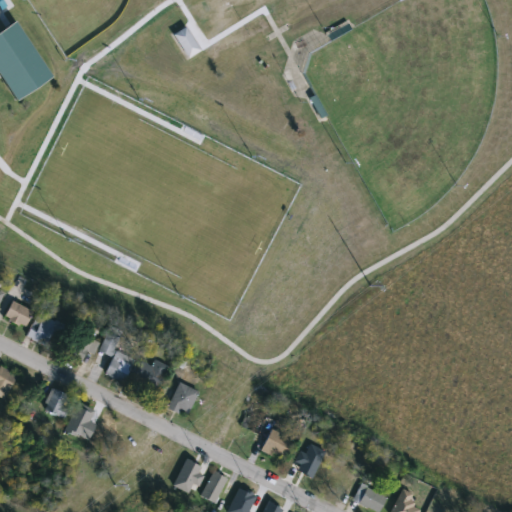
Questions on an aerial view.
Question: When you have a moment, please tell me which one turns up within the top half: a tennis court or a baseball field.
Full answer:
The feature located within the top half is a baseball field.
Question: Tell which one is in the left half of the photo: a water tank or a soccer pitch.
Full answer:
The one visible in the left half of the photo is a soccer pitch.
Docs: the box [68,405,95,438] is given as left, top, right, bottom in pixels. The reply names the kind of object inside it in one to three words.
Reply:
house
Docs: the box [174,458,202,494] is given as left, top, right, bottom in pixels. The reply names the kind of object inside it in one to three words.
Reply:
house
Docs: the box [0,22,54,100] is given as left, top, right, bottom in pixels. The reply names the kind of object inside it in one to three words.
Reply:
barn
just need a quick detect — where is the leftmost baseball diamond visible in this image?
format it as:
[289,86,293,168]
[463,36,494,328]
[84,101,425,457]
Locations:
[29,0,126,57]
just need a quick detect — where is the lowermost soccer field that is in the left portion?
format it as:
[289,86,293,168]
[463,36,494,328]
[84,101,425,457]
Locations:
[34,90,290,311]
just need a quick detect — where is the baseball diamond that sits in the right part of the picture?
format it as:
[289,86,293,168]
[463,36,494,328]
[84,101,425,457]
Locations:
[306,0,498,231]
